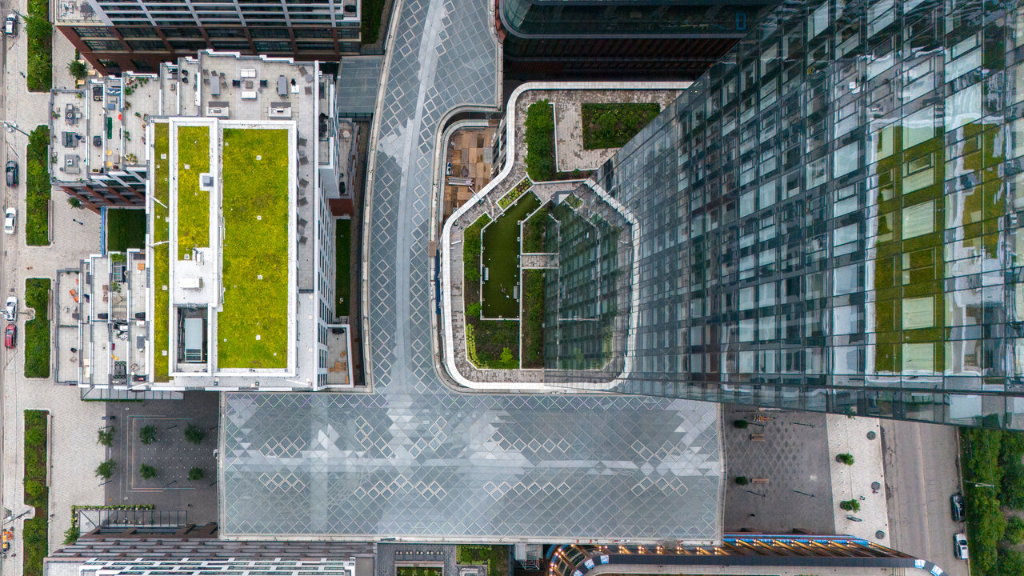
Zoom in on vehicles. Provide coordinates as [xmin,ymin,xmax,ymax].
[951,532,968,560]
[3,208,17,235]
[948,493,965,522]
[3,324,17,348]
[3,11,17,38]
[4,296,18,320]
[4,160,19,187]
